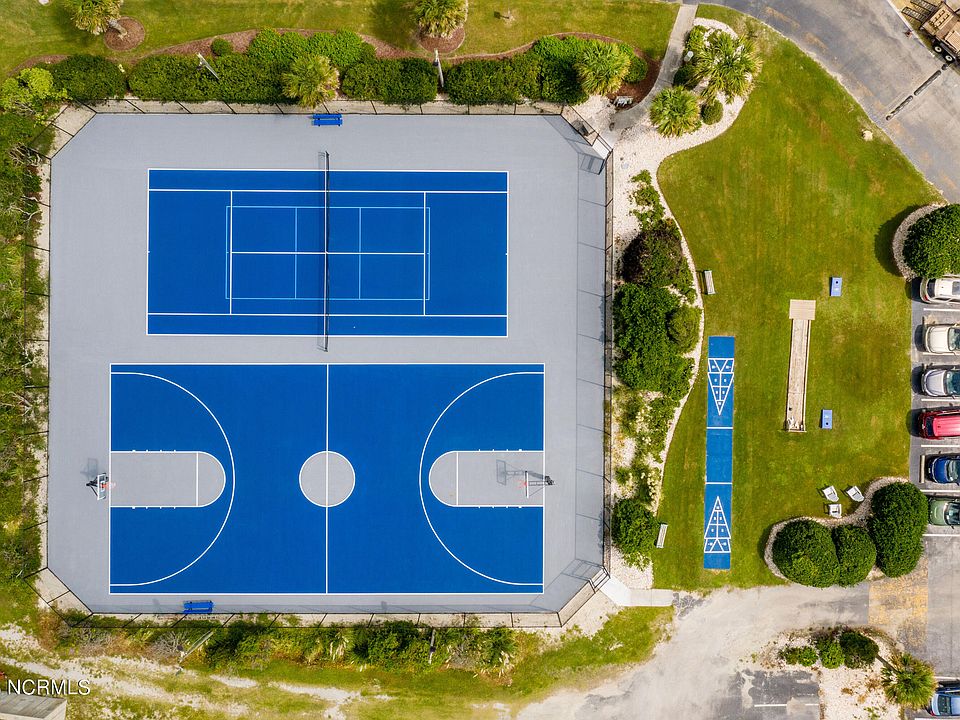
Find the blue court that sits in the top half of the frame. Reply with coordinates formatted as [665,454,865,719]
[147,168,508,337]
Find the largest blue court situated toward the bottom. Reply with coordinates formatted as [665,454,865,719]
[110,364,544,594]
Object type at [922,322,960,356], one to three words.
car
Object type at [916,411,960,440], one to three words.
car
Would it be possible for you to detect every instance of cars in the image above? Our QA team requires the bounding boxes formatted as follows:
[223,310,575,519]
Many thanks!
[922,322,960,356]
[930,454,960,488]
[916,411,960,440]
[929,682,960,717]
[928,496,960,528]
[917,277,960,306]
[922,367,960,399]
